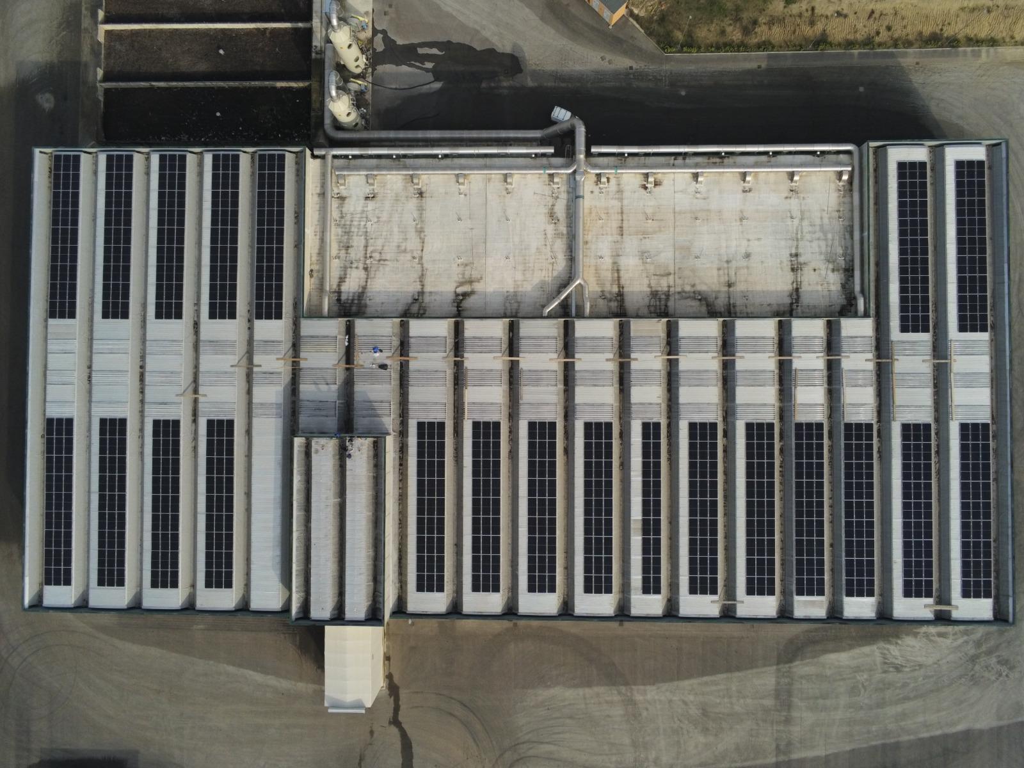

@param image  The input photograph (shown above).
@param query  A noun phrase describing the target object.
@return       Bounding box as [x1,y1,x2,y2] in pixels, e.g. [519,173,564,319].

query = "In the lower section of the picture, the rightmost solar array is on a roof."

[962,423,993,598]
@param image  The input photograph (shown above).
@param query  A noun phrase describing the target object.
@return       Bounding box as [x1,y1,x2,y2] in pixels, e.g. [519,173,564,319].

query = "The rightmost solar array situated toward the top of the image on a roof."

[959,160,990,332]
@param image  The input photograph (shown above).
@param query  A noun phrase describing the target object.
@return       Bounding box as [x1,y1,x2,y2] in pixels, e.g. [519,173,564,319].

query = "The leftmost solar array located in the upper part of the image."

[48,154,77,318]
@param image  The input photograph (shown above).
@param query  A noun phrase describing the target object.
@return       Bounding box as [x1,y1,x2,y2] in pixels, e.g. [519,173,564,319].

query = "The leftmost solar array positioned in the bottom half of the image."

[42,418,72,585]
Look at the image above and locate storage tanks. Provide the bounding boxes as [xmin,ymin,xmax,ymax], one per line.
[331,66,368,127]
[331,4,368,72]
